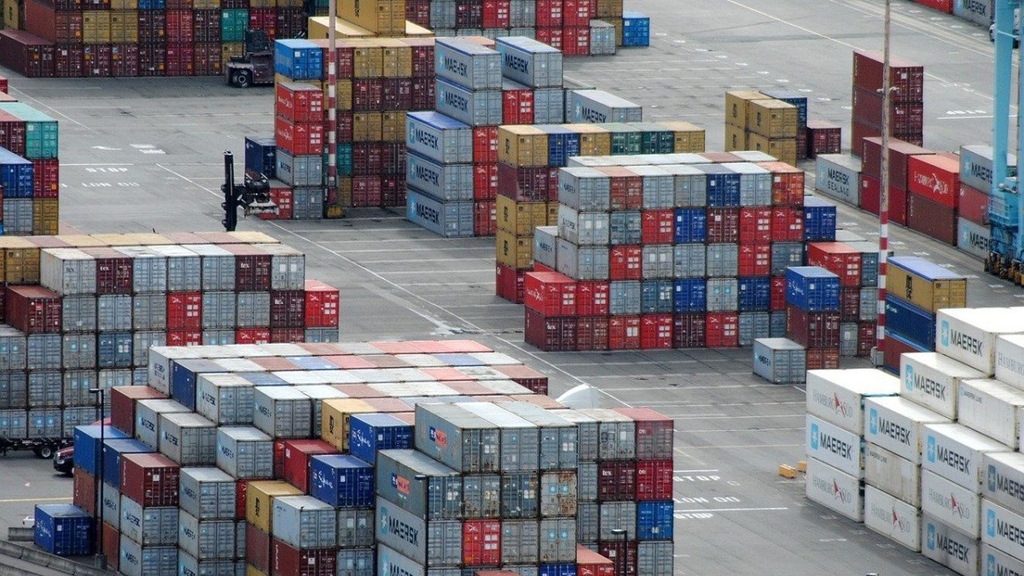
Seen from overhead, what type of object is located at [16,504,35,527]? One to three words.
car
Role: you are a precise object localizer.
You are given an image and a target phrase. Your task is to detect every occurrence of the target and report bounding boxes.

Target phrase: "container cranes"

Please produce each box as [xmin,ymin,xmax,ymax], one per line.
[984,0,1024,278]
